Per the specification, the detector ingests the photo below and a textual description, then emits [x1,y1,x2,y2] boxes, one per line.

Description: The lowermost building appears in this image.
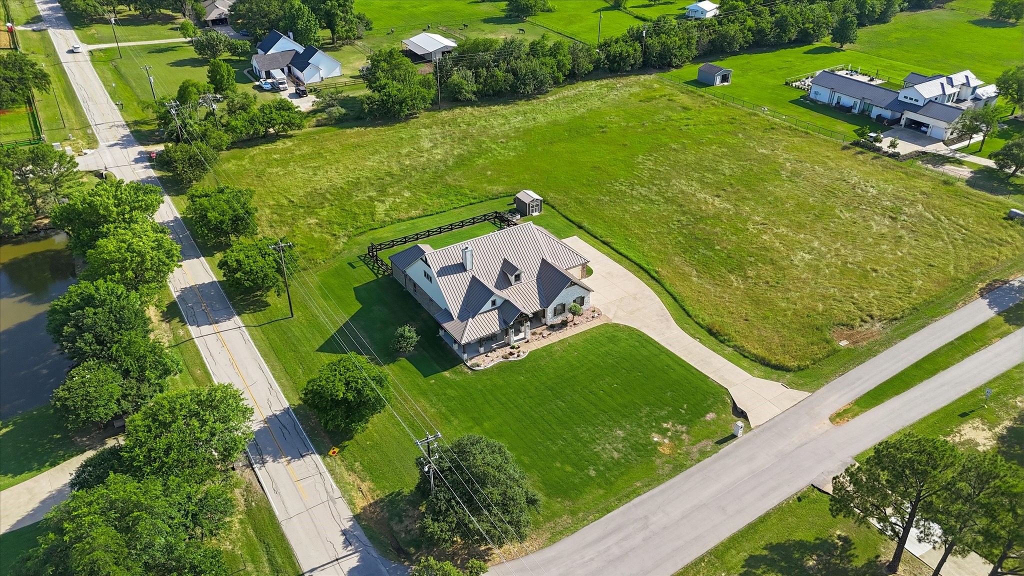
[388,222,597,360]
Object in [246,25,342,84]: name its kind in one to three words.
house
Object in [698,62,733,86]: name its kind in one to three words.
shed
